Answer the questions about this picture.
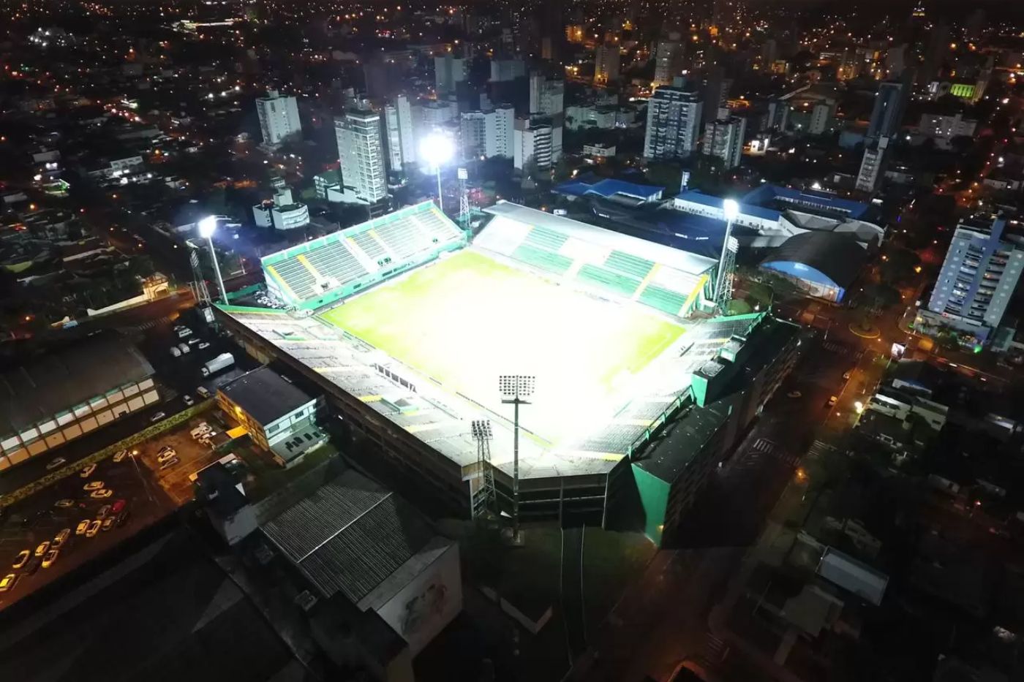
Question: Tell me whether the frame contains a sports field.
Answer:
Yes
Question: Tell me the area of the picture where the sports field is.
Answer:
center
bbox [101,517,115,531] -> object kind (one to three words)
car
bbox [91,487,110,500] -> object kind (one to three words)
vehicle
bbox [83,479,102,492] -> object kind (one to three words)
vehicle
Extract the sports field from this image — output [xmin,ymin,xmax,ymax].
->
[320,249,690,442]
